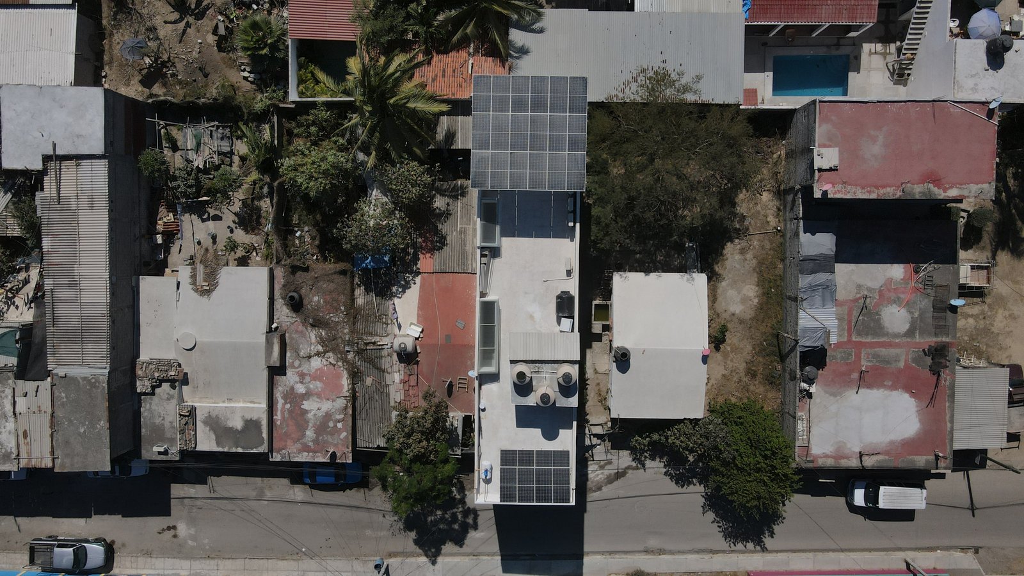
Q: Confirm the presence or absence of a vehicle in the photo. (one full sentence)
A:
Yes, a vehicle is visible in the scene.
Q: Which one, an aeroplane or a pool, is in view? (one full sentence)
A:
It is a pool that can be seen here.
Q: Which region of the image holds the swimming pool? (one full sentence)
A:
The swimming pool appears toward the top right of the photo.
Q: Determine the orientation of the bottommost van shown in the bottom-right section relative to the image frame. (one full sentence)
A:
I'd say the bottommost van shown in the bottom-right section is aligned from left to right in the picture.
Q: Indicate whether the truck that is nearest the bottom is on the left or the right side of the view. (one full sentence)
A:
The truck that is nearest the bottom is on the left side of the image.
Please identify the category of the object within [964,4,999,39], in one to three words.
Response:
umbrella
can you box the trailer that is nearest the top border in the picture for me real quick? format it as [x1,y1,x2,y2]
[958,259,1001,290]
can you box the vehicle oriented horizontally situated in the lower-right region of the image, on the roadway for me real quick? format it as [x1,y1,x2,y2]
[843,475,932,512]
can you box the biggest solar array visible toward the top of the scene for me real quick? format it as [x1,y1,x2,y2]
[471,76,586,194]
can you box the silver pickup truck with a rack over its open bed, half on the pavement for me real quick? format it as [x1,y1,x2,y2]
[24,538,113,573]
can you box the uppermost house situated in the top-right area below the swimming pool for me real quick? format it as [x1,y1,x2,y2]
[768,98,999,211]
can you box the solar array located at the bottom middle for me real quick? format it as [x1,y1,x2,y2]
[500,450,574,503]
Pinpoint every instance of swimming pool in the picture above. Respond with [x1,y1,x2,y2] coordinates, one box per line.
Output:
[770,52,852,99]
